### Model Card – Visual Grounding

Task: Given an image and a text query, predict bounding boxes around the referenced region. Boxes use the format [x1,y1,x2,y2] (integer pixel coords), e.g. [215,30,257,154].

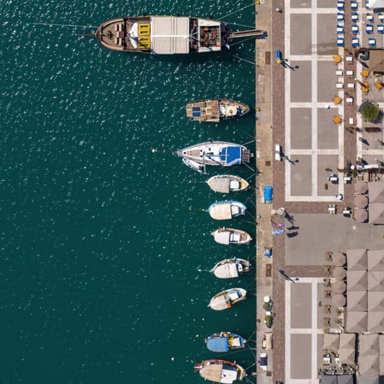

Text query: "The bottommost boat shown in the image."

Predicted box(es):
[196,361,246,384]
